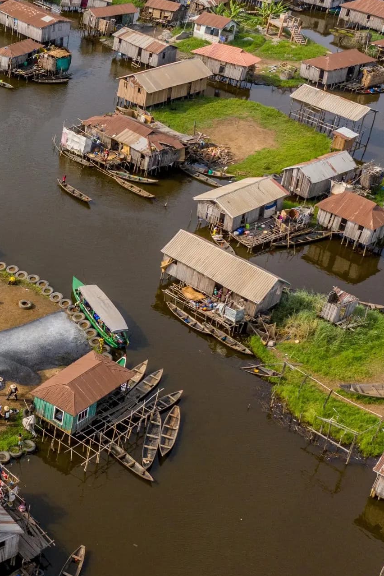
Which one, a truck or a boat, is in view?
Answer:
boat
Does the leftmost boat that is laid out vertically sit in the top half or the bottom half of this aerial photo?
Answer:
bottom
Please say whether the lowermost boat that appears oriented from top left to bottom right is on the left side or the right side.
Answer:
left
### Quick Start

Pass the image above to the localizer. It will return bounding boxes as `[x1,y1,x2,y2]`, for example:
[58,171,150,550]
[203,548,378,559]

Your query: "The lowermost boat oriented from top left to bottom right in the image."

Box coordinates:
[101,438,155,482]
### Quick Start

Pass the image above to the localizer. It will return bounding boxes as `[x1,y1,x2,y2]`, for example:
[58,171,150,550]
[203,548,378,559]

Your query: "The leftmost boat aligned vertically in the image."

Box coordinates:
[140,410,161,469]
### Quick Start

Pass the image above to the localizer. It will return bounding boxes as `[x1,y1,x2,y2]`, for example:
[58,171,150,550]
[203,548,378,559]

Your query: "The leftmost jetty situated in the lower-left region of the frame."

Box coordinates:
[0,497,53,567]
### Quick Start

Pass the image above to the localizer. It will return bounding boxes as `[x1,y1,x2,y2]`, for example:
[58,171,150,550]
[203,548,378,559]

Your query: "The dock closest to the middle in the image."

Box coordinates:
[161,282,251,344]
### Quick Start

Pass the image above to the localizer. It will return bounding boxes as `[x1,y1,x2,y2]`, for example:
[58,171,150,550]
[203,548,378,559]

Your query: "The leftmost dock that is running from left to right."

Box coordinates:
[11,64,55,87]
